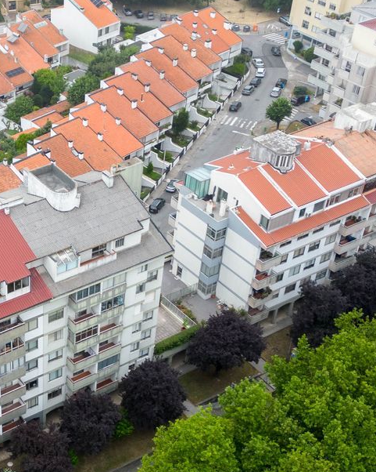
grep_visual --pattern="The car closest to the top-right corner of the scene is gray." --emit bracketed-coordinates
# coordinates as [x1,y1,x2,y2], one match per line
[275,15,295,29]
